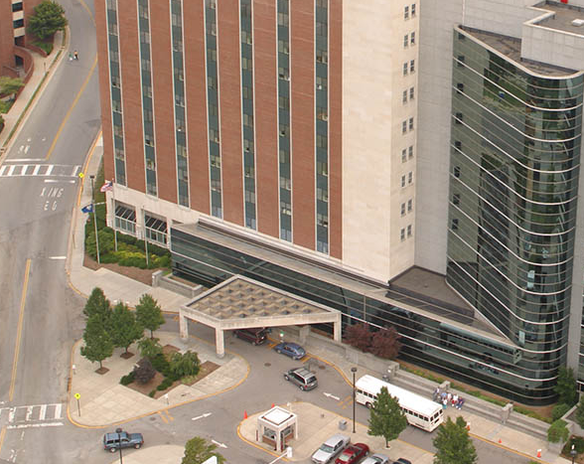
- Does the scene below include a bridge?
No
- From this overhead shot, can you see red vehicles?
Yes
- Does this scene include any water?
No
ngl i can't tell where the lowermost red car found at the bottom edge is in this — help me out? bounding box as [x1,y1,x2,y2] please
[338,440,368,464]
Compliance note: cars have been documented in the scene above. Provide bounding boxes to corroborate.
[315,432,347,457]
[284,365,316,385]
[338,440,368,464]
[390,456,410,464]
[231,326,264,343]
[274,341,306,357]
[104,426,142,446]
